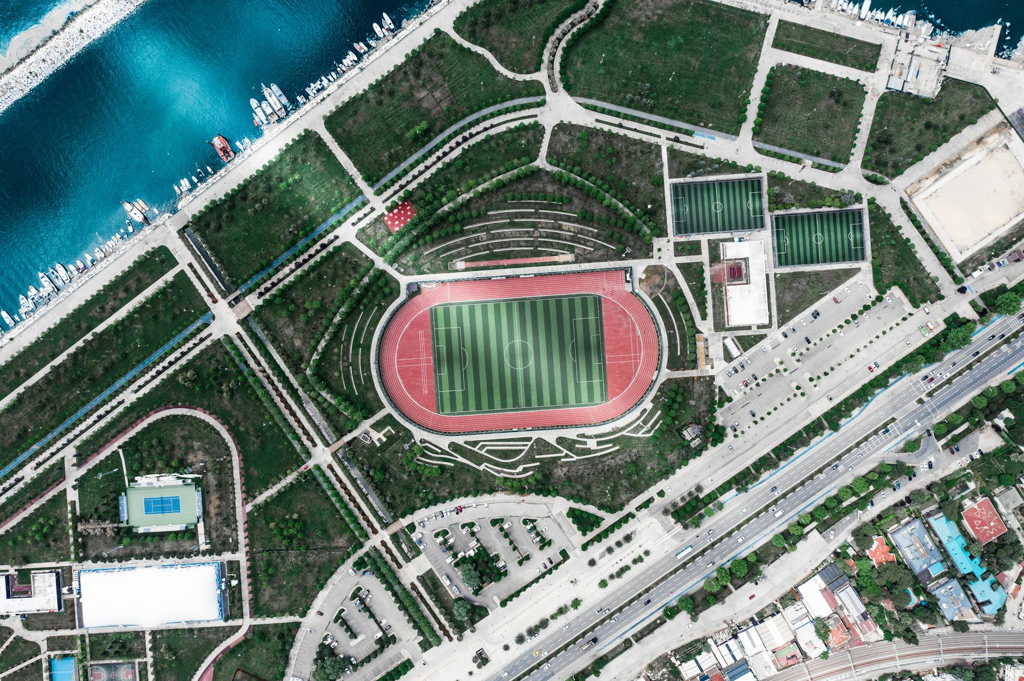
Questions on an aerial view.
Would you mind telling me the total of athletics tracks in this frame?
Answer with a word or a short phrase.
1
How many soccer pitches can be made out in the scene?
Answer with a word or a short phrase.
3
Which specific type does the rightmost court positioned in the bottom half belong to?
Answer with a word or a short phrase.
tennis court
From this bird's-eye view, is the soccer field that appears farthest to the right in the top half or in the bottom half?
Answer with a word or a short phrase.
top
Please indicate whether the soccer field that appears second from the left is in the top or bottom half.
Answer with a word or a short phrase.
top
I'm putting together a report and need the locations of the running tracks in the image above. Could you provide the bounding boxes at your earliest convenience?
[380,271,659,434]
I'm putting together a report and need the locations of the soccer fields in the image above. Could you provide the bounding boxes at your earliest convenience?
[771,206,872,269]
[428,294,608,416]
[669,174,770,238]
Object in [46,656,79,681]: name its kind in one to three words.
tennis court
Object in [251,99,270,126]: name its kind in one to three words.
boat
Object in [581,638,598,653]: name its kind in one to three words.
vehicle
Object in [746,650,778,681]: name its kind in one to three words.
building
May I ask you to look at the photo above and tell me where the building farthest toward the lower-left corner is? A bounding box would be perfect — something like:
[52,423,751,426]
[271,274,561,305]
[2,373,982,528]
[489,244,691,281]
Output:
[0,566,68,614]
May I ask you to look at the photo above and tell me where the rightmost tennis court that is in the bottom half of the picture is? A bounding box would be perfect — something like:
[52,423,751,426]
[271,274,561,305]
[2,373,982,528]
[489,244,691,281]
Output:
[118,476,204,537]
